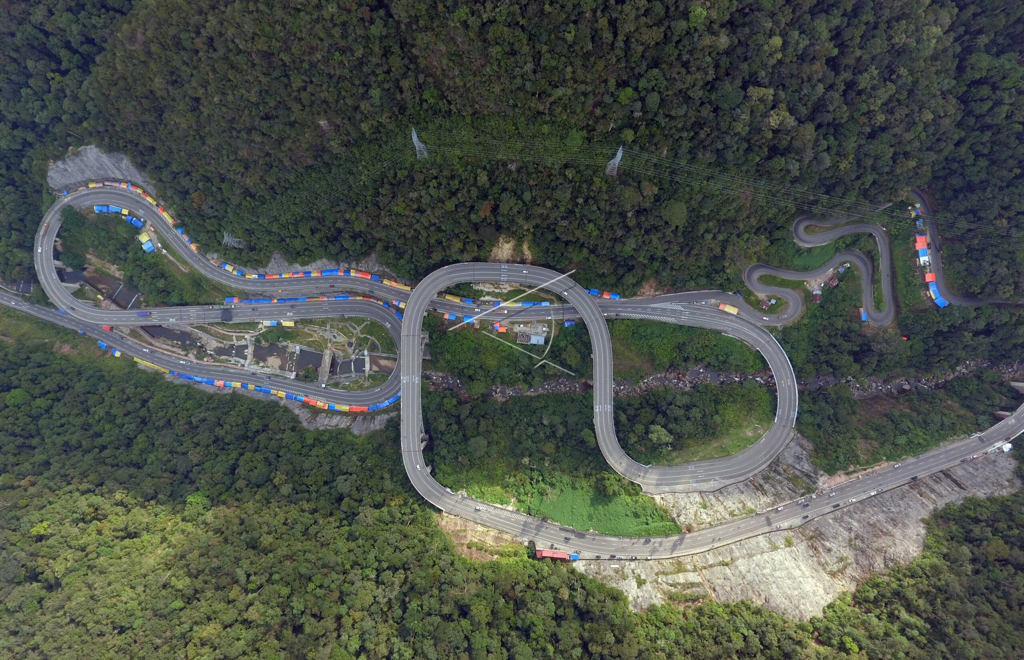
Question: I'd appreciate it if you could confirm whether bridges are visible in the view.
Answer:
Yes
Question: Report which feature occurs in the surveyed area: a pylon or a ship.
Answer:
pylon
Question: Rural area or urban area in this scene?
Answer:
rural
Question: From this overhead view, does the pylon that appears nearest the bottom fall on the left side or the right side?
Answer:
left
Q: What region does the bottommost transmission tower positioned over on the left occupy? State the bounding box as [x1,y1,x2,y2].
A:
[222,231,246,252]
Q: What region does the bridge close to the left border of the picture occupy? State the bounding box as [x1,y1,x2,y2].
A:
[33,194,227,330]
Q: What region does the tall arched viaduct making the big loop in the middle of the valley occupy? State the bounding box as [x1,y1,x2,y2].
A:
[401,262,644,512]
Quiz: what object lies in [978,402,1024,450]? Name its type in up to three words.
bridge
